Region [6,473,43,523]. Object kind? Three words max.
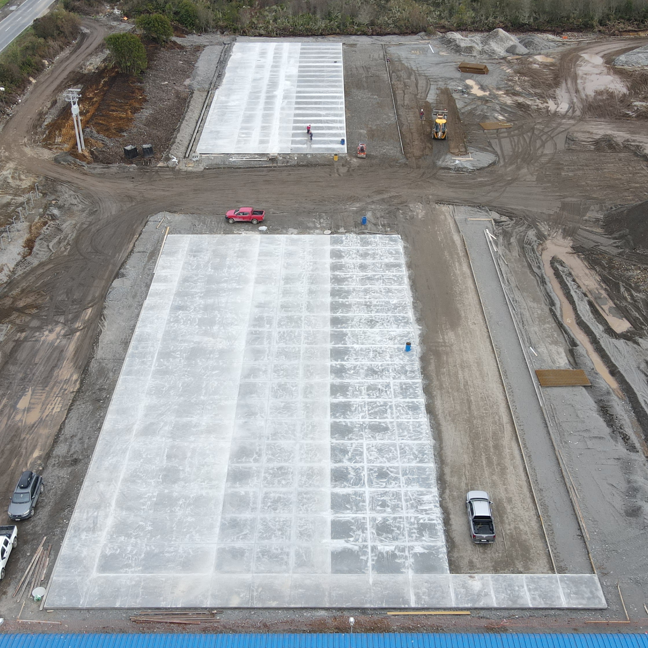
car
